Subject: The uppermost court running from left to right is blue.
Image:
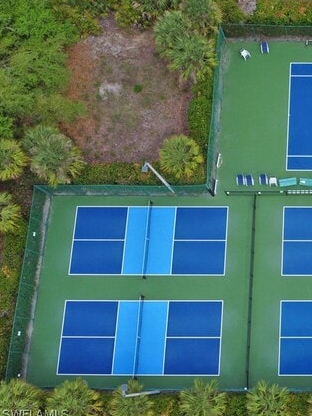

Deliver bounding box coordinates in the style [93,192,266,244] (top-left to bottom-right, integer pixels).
[69,207,228,275]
